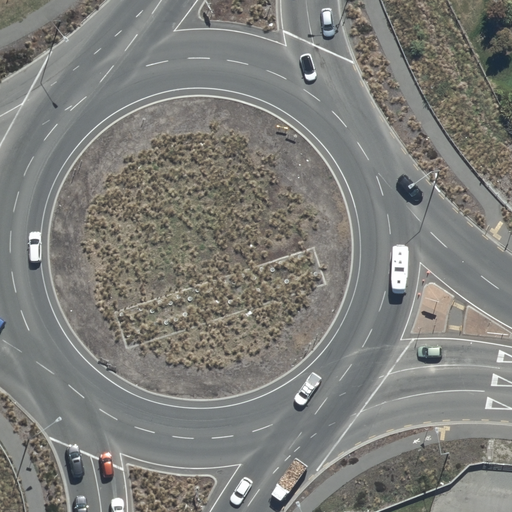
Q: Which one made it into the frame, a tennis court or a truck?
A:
truck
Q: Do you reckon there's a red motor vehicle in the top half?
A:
No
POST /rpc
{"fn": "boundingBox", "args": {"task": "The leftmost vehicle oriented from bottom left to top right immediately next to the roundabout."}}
[229,476,254,506]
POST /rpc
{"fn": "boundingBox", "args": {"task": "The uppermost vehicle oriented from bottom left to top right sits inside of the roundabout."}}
[295,372,322,406]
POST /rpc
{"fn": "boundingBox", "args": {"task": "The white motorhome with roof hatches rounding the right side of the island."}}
[390,243,408,294]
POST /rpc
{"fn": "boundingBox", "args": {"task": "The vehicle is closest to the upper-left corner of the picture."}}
[28,232,42,262]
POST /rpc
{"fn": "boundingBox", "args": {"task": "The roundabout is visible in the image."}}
[0,29,420,467]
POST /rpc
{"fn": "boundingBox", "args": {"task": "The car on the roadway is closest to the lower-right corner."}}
[417,344,442,358]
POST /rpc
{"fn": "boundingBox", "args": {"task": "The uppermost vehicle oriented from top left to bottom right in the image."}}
[396,172,422,204]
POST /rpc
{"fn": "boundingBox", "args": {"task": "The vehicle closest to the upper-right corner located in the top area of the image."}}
[320,8,335,38]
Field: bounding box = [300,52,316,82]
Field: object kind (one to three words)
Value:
car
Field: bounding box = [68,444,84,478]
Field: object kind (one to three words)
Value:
car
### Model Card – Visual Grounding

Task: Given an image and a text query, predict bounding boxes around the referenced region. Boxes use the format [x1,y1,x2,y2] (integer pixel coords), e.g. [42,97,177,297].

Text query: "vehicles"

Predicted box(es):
[320,8,335,38]
[417,344,442,358]
[396,172,422,204]
[390,243,408,294]
[28,232,42,262]
[300,52,316,82]
[99,452,114,478]
[229,476,254,506]
[295,372,322,406]
[68,444,84,478]
[74,496,88,512]
[270,458,308,503]
[110,498,125,512]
